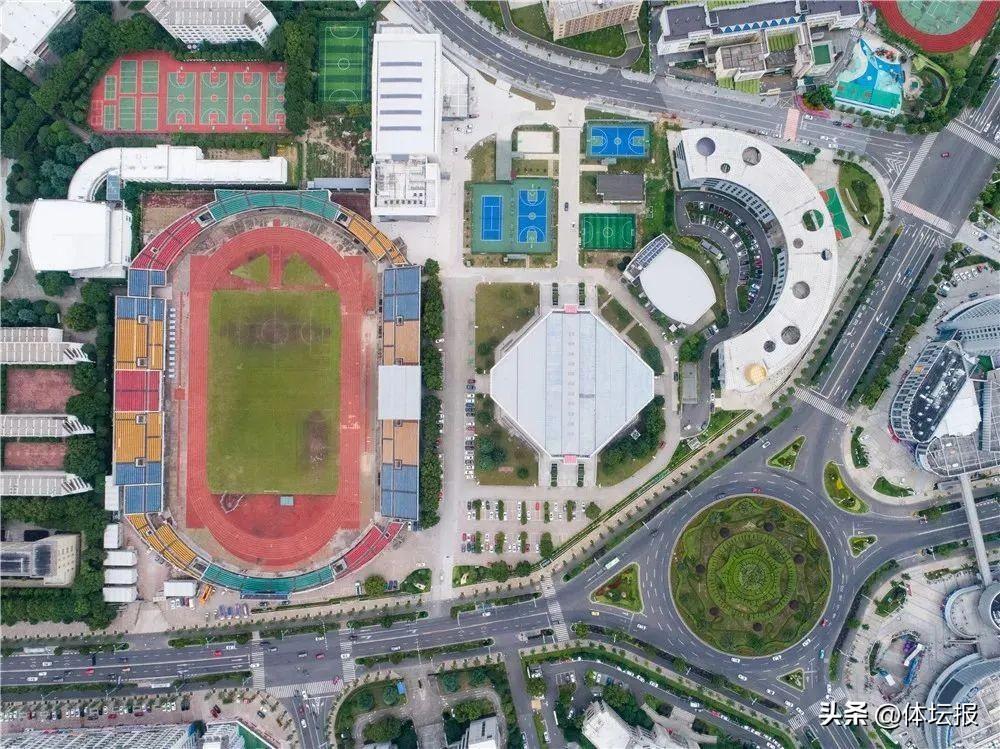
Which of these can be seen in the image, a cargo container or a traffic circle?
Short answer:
traffic circle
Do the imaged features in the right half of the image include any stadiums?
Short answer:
No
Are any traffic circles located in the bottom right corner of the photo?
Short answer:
Yes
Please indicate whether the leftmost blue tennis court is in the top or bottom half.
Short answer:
top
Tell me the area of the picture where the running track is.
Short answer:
left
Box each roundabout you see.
[670,494,833,658]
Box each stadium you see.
[112,188,424,600]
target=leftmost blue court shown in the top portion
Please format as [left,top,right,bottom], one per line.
[480,195,503,240]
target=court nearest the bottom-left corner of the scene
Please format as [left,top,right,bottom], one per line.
[5,442,63,467]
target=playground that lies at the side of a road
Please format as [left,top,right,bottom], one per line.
[838,34,904,116]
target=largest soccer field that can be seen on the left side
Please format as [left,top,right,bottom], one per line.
[207,290,341,494]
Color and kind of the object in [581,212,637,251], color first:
green sports field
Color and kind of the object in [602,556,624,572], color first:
white vehicle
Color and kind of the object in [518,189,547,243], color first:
blue basketball court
